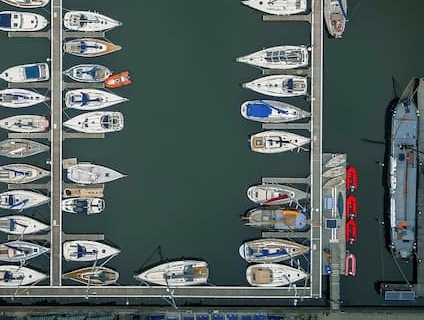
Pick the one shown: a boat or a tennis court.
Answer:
boat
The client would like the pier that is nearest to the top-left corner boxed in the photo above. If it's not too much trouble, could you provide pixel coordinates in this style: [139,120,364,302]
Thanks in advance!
[8,0,105,286]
